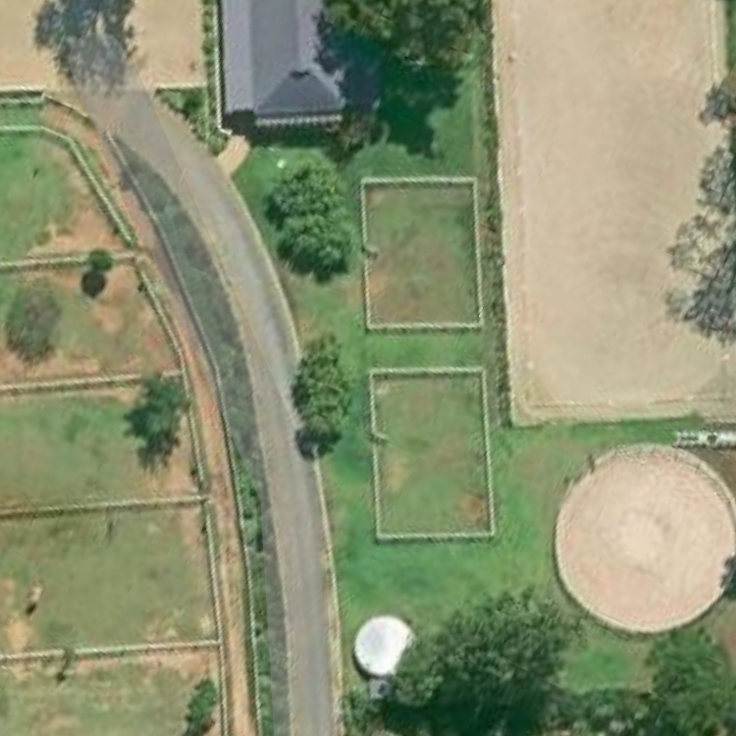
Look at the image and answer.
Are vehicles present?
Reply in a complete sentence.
No, there's no vehicle here.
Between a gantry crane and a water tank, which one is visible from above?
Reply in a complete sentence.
It is a water tank that can be seen here.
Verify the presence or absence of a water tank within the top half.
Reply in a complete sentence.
No, there is no water tank within the top half.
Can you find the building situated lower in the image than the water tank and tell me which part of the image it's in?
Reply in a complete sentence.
The building situated lower in the image than the water tank appears toward the bottom of the photo.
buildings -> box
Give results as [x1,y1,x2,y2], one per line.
[222,0,346,126]
[369,679,390,700]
